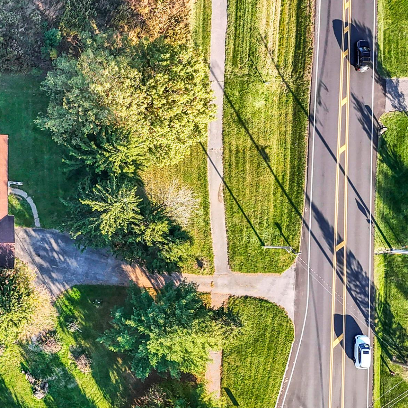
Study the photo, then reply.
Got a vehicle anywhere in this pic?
Yes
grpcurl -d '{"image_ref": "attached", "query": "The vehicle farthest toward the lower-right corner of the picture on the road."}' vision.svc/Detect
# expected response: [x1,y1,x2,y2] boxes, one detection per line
[354,336,373,370]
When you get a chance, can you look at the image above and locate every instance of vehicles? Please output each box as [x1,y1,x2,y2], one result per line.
[354,336,373,370]
[357,38,377,72]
